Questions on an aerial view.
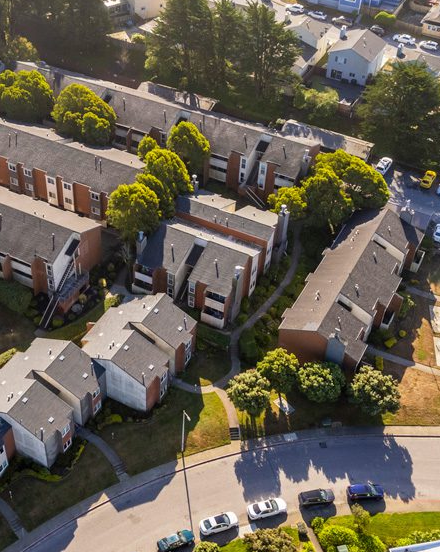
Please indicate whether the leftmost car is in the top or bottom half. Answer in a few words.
bottom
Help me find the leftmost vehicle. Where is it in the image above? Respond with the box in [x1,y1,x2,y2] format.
[153,529,198,552]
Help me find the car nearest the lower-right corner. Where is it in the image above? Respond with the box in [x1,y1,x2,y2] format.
[344,482,386,503]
